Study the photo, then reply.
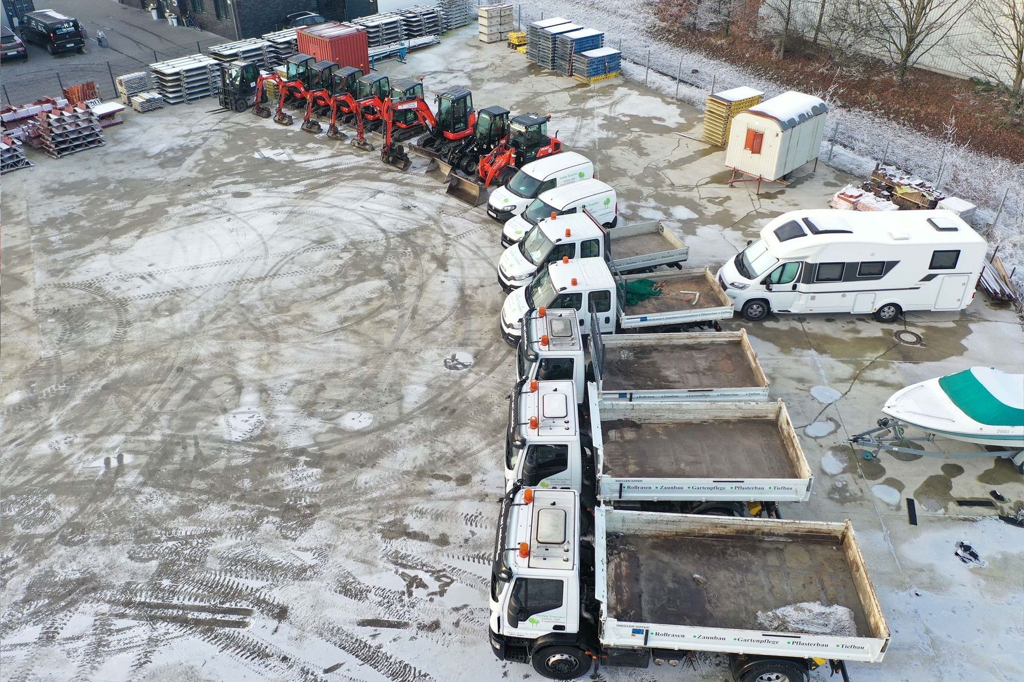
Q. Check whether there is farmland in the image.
No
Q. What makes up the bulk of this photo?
paved ground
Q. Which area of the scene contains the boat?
right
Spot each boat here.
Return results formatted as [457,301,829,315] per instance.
[880,372,1024,449]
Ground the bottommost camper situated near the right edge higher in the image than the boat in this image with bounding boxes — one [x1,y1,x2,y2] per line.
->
[715,208,986,323]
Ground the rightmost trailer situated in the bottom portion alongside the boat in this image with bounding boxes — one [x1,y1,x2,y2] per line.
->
[830,415,1024,463]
